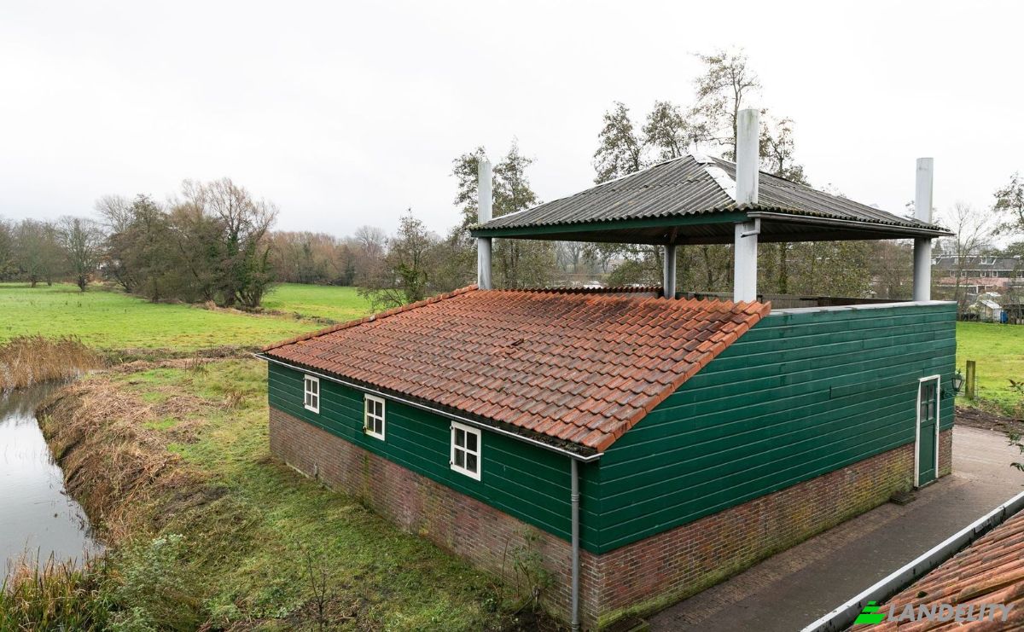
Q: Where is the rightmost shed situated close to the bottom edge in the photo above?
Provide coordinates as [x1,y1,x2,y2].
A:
[796,495,1024,632]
